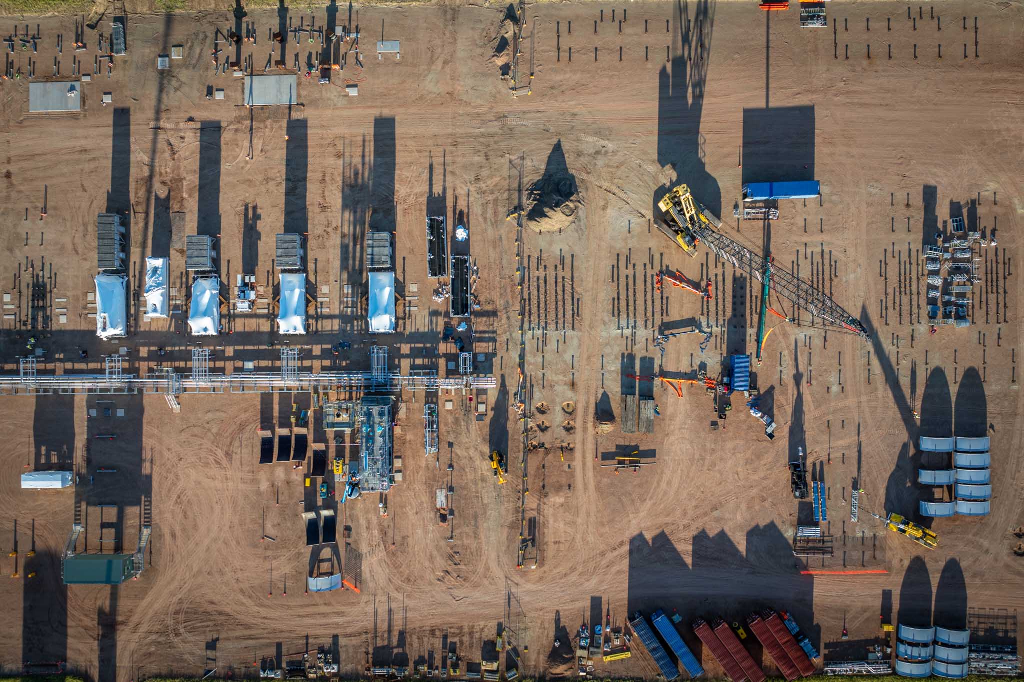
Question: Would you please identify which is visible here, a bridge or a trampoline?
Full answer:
This aerial view contains a bridge.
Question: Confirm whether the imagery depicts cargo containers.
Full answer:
Yes, the image includes a cargo container.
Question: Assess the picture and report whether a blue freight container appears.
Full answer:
Yes, looking at the shot, I can spot a blue freight container.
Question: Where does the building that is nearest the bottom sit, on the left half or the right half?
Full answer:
It is on the left.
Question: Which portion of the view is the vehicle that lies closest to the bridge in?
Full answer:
The vehicle that lies closest to the bridge sits in the left section of the image.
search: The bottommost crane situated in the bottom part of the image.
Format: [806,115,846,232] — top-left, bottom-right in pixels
[873,509,951,555]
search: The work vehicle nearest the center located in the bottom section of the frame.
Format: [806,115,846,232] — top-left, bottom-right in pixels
[486,452,510,490]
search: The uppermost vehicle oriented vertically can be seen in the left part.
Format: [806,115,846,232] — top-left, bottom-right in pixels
[234,273,254,315]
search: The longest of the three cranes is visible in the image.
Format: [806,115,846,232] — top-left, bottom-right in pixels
[655,176,874,342]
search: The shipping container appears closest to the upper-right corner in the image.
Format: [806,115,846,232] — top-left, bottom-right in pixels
[742,182,823,208]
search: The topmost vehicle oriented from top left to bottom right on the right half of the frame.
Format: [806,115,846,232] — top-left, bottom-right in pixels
[751,406,776,430]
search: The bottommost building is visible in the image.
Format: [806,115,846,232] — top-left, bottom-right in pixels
[61,517,151,584]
